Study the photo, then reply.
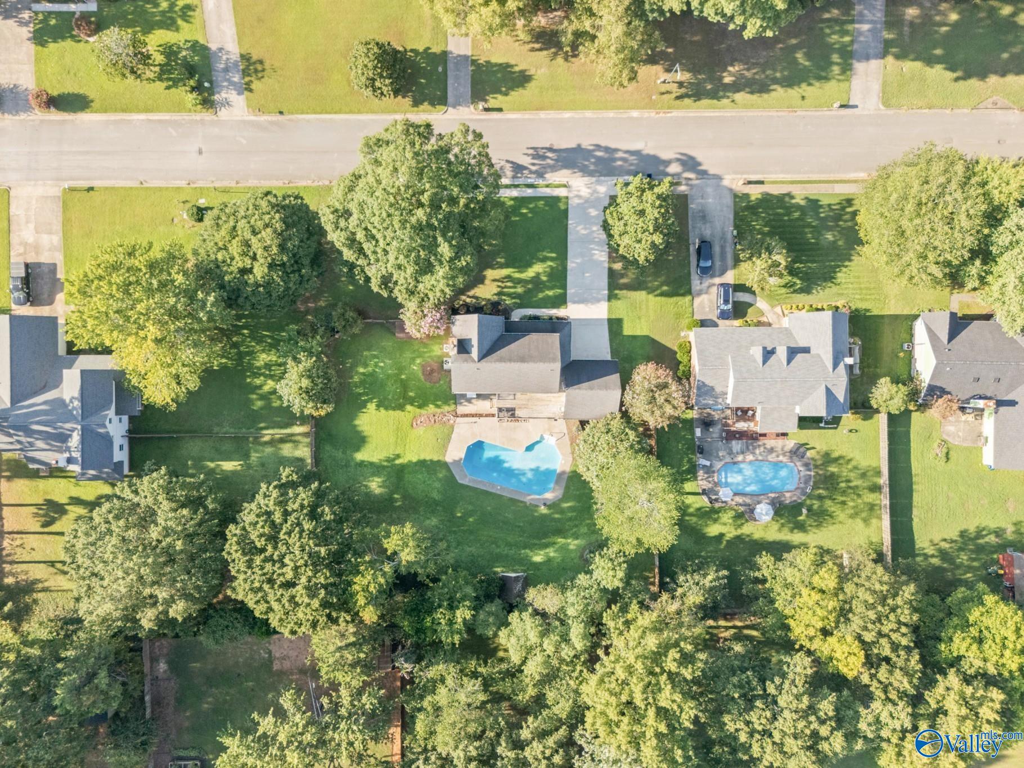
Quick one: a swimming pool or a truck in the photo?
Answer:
swimming pool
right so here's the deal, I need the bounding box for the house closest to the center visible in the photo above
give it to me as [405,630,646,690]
[449,314,621,419]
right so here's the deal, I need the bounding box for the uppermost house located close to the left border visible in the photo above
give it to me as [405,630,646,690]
[0,314,148,481]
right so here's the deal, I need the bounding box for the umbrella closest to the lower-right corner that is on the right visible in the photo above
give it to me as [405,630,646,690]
[754,502,772,521]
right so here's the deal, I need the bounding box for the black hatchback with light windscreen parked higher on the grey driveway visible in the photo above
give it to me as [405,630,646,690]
[696,241,713,276]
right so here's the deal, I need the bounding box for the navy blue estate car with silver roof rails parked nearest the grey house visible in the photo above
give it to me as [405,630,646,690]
[716,284,733,320]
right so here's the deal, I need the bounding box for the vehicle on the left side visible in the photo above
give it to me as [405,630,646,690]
[9,267,33,300]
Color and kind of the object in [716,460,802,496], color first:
blue swimming pool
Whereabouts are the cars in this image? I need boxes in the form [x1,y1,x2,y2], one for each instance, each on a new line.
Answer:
[696,241,713,276]
[716,284,733,320]
[9,267,33,300]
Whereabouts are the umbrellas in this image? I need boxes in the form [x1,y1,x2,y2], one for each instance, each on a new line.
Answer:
[754,502,772,521]
[718,487,732,500]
